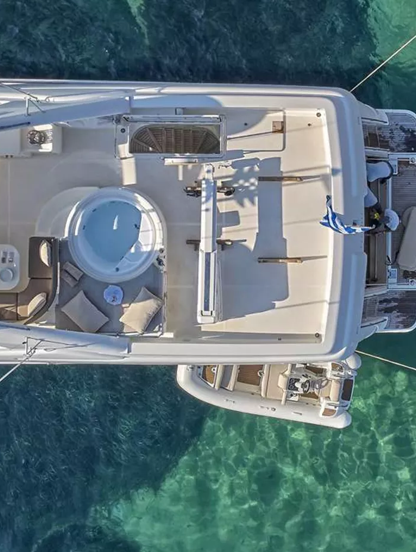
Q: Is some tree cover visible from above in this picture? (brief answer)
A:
No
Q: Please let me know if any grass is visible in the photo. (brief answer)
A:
No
